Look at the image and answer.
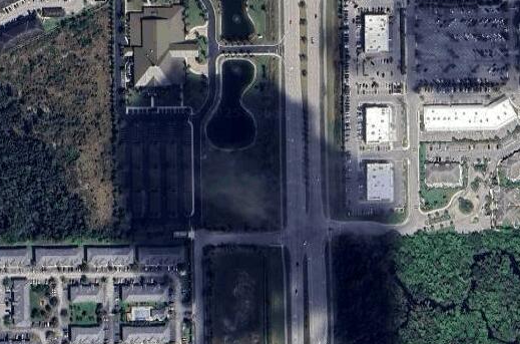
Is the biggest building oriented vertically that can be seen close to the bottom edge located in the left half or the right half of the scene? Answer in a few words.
left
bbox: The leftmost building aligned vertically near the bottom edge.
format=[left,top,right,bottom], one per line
[12,279,32,328]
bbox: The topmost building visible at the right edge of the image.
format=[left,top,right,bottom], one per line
[424,97,519,130]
